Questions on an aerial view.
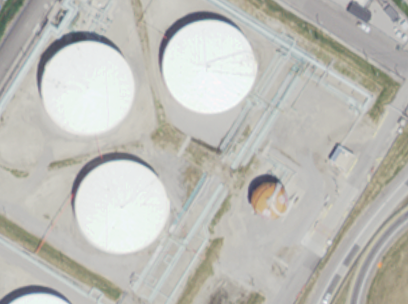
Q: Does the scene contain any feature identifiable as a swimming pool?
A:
No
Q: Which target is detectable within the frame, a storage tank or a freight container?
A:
storage tank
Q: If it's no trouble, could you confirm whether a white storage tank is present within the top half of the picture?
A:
Yes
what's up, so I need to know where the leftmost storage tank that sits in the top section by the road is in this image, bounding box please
[39,38,138,138]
